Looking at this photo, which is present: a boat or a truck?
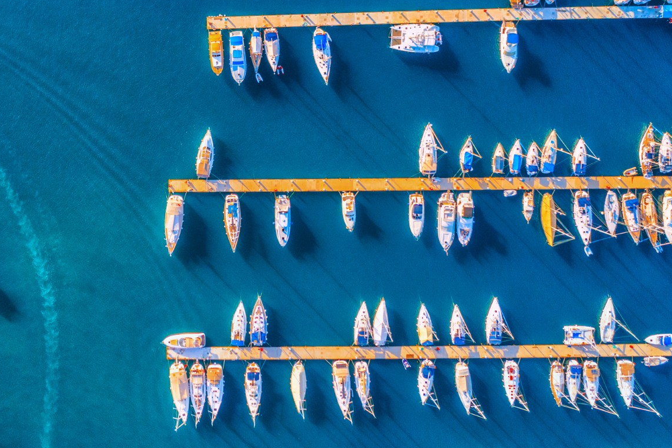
boat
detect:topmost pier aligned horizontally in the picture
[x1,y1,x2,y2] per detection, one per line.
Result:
[207,5,664,30]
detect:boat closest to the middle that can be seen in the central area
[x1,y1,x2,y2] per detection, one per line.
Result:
[340,192,357,237]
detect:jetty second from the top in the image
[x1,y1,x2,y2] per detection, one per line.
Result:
[169,176,672,193]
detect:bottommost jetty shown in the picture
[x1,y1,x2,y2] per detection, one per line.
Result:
[167,343,672,359]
